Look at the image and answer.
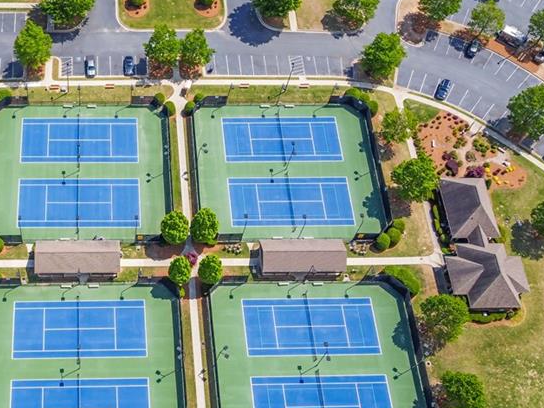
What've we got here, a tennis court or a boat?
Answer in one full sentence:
I can see a tennis court in this picture.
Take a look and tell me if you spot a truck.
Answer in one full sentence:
Yes, a truck can be made out from above.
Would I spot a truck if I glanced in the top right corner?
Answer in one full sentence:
Yes, a truck appears in the top right corner.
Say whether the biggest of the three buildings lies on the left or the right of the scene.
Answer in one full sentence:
You can find the biggest of the three buildings on the right side of the picture.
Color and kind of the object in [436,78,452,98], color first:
blue car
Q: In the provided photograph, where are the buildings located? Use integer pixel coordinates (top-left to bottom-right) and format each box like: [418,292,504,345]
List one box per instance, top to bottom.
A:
[437,178,530,317]
[257,239,348,279]
[35,240,121,280]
